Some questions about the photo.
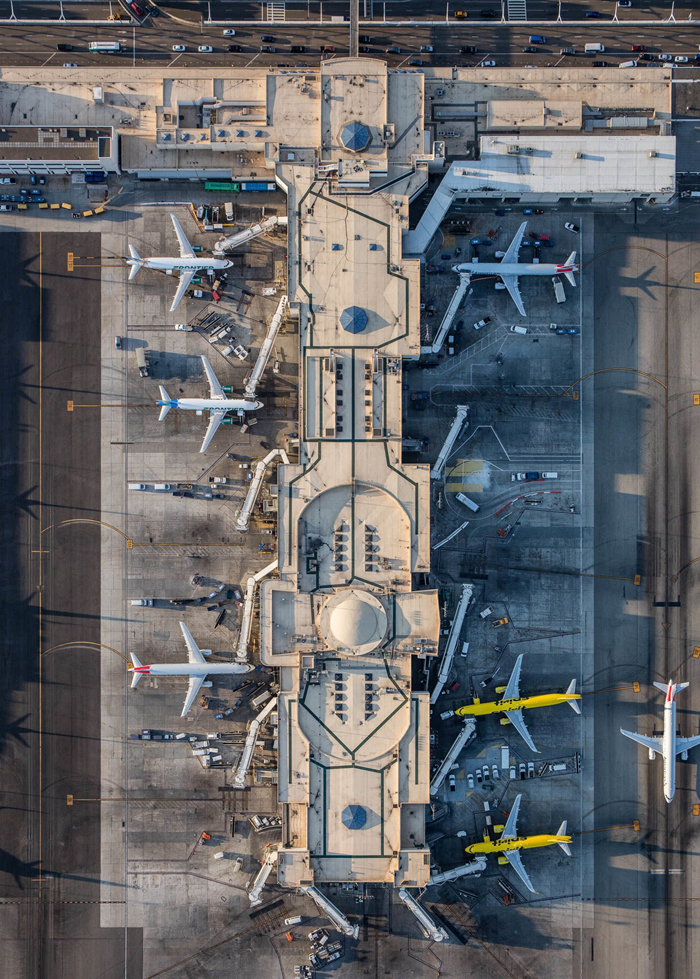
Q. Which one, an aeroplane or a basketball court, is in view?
aeroplane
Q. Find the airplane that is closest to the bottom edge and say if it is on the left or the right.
right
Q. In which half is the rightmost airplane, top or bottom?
bottom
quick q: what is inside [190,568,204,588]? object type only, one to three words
vehicle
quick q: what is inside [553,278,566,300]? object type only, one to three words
vehicle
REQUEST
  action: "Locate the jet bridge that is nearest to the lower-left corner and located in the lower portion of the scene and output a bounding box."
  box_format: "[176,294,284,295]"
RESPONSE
[249,847,277,906]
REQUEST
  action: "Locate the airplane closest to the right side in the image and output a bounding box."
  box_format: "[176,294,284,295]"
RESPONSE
[621,680,700,802]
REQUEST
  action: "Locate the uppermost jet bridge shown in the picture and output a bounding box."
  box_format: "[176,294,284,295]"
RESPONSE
[210,214,288,261]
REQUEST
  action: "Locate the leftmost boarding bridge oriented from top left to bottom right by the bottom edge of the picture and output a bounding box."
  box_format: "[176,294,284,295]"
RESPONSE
[304,883,361,934]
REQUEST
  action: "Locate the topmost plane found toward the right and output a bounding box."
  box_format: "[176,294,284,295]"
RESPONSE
[451,220,580,317]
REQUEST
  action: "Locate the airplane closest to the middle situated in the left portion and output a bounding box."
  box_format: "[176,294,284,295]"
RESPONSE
[157,352,264,455]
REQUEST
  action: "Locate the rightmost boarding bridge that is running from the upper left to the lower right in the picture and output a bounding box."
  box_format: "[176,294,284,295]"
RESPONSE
[396,887,449,943]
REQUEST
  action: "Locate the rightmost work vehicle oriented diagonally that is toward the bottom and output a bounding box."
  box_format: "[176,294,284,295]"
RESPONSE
[536,760,551,778]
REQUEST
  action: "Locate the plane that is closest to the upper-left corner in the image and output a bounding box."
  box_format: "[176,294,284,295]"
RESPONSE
[125,209,234,315]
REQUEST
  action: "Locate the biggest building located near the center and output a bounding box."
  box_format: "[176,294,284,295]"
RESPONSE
[261,163,441,887]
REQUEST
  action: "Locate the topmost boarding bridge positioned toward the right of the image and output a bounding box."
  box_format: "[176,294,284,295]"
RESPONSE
[420,270,474,356]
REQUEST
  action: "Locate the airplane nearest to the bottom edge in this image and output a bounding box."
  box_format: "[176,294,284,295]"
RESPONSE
[465,794,575,898]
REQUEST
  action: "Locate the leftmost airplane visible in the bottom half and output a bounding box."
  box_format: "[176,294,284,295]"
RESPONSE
[127,620,255,718]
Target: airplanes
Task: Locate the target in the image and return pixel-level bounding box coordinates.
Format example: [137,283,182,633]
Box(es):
[127,620,255,718]
[455,651,583,755]
[451,220,580,317]
[621,680,700,802]
[125,209,234,315]
[157,352,264,455]
[465,794,575,898]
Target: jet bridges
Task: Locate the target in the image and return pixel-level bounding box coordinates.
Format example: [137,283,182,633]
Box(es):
[396,887,449,943]
[210,214,288,261]
[420,270,474,356]
[235,558,278,664]
[425,848,491,889]
[430,713,479,795]
[242,293,288,400]
[234,447,293,533]
[430,402,468,480]
[430,580,474,704]
[304,883,361,934]
[249,847,277,906]
[235,695,278,790]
